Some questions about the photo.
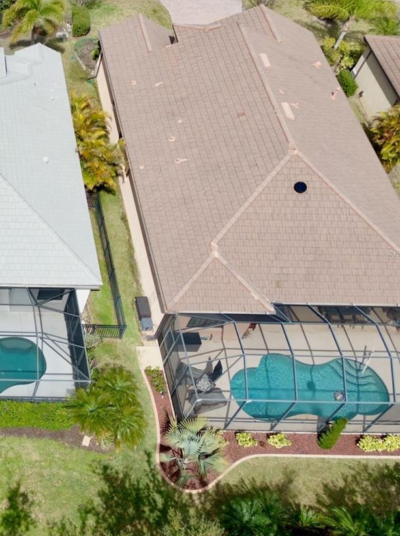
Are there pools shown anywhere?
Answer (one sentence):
Yes, there's a pool down there.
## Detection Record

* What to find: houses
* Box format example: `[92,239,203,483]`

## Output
[353,33,400,135]
[86,1,400,335]
[0,42,103,311]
